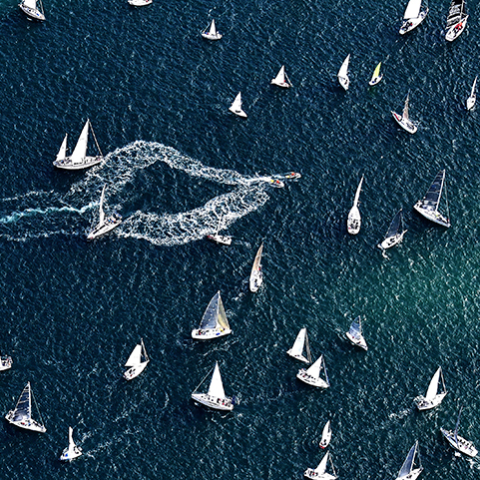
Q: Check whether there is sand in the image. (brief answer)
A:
No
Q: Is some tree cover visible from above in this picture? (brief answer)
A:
No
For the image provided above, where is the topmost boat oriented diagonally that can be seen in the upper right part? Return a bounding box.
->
[398,0,428,33]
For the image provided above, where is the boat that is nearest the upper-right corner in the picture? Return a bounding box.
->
[447,0,468,41]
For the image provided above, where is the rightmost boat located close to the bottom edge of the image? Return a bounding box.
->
[441,408,479,457]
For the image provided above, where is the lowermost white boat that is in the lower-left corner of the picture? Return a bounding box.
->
[61,429,82,460]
